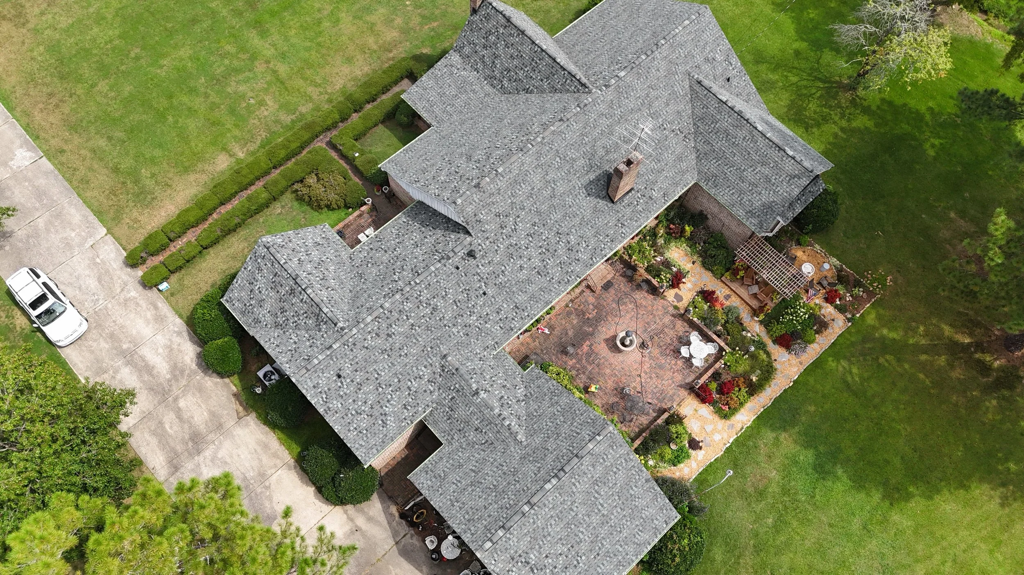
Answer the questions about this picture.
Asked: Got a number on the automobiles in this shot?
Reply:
1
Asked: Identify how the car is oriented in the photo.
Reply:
on a diagonal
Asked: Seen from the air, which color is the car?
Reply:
white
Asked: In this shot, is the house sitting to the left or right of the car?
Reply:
right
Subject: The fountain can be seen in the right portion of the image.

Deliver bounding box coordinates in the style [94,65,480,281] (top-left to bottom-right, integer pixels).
[617,330,637,351]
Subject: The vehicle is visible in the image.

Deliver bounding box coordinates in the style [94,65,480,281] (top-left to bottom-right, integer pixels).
[7,263,90,348]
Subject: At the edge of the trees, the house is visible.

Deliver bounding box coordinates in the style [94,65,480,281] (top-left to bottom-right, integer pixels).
[220,0,835,575]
